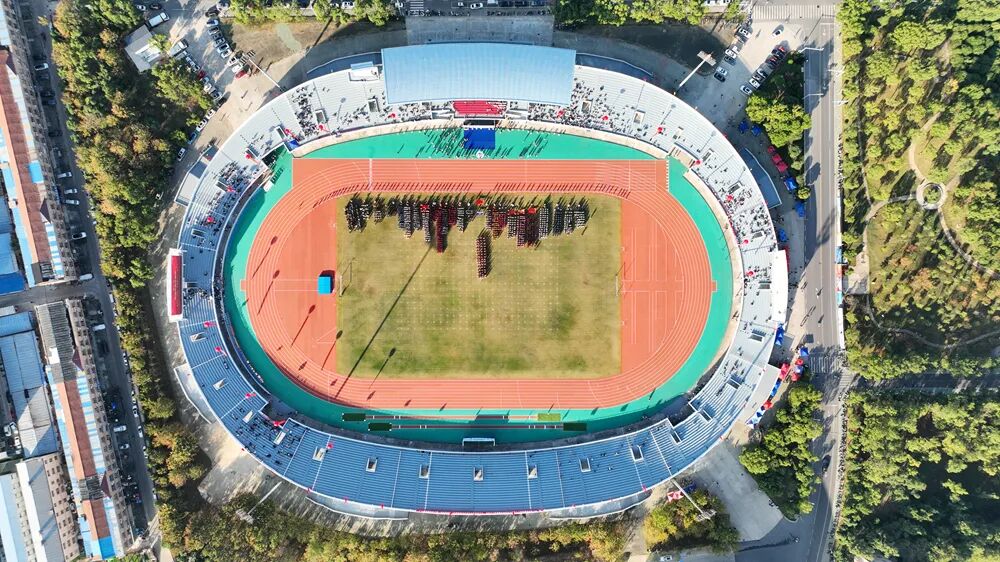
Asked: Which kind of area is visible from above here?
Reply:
sports ground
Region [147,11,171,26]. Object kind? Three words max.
vehicle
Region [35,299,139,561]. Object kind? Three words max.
building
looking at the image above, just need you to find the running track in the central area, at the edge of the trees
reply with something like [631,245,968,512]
[224,130,732,442]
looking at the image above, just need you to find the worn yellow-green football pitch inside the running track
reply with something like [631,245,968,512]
[338,192,621,378]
